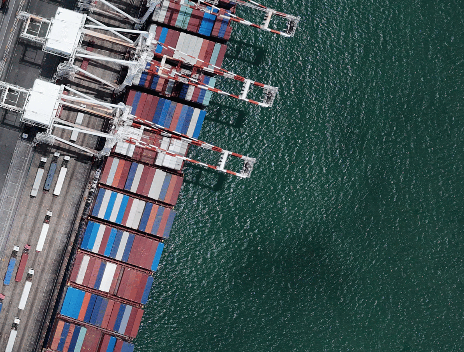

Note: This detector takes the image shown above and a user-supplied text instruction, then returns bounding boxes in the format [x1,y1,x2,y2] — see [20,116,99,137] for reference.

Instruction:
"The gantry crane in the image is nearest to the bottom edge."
[0,69,261,181]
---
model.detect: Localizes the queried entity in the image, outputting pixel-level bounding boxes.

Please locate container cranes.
[15,0,283,111]
[82,0,304,41]
[0,69,261,181]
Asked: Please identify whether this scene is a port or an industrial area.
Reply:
port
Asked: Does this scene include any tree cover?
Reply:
No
